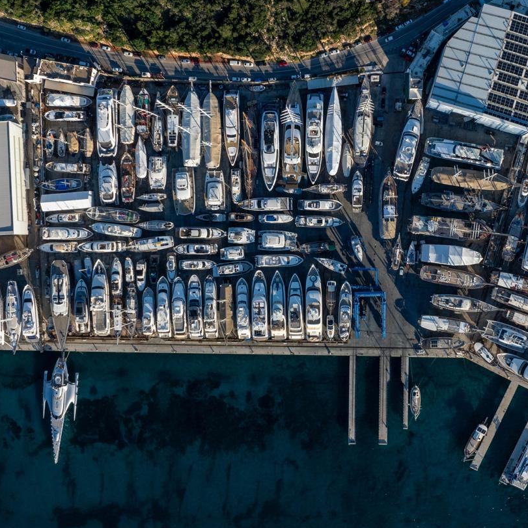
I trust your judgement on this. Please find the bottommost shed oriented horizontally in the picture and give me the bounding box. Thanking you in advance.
[40,190,97,213]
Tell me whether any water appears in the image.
Yes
